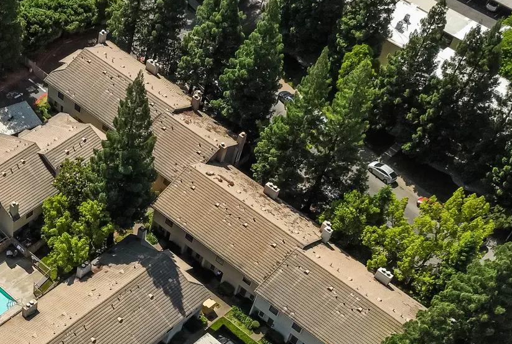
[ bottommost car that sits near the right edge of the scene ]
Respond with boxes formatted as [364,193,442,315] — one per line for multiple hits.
[464,237,504,265]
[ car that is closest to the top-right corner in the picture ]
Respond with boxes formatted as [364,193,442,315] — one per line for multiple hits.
[478,0,503,16]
